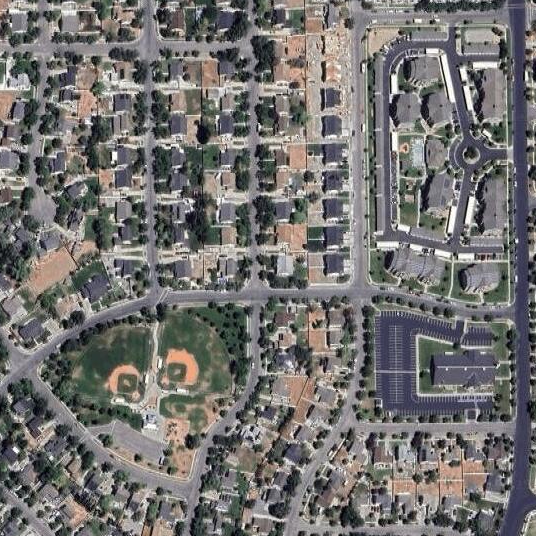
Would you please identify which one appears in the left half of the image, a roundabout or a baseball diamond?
baseball diamond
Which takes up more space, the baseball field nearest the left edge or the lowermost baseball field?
the baseball field nearest the left edge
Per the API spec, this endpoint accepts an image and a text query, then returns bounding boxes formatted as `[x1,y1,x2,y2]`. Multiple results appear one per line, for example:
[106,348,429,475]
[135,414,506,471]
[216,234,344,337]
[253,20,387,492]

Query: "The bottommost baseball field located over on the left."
[161,393,204,420]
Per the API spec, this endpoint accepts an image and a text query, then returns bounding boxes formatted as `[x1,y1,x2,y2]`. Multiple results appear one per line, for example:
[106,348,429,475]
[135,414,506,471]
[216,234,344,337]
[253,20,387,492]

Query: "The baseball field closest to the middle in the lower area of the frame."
[160,317,229,390]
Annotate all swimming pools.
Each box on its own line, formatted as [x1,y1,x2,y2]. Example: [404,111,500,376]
[412,140,425,164]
